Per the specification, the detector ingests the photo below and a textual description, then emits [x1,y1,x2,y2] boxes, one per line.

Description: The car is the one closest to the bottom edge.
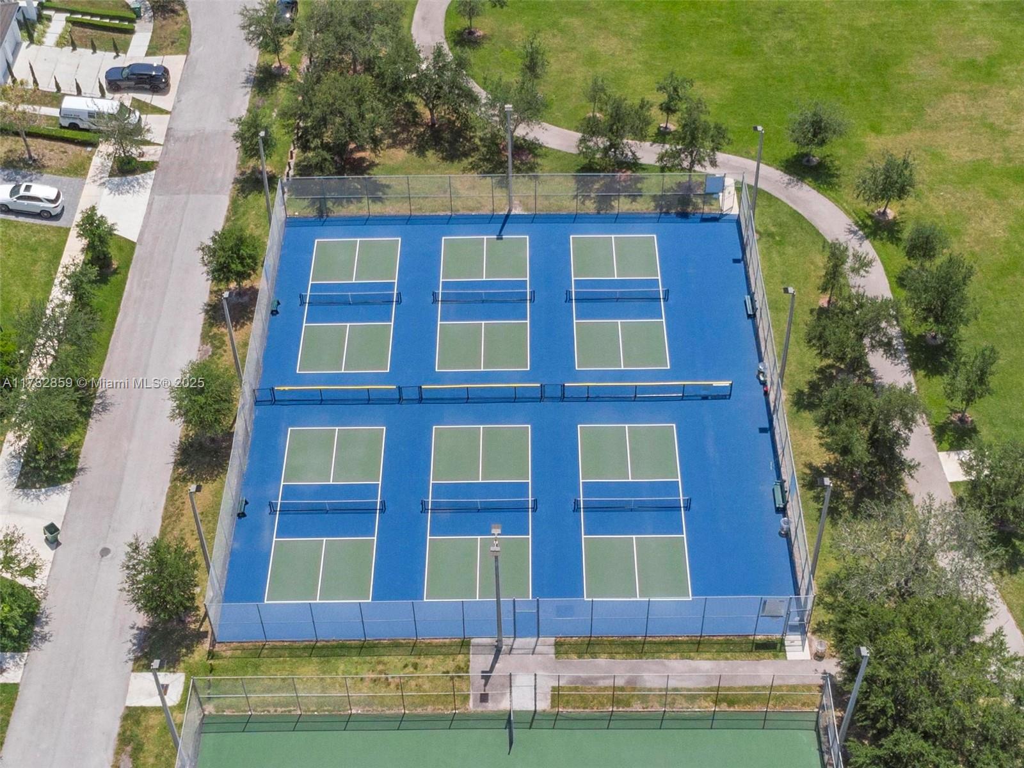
[0,182,66,218]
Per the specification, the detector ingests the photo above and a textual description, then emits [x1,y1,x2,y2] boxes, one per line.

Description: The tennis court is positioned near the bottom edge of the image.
[195,709,827,768]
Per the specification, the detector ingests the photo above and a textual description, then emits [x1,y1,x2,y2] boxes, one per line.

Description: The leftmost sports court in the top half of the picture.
[297,240,400,374]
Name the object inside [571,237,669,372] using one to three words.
sports court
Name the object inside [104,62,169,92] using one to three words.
car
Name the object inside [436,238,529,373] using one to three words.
sports court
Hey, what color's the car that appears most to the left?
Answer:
white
